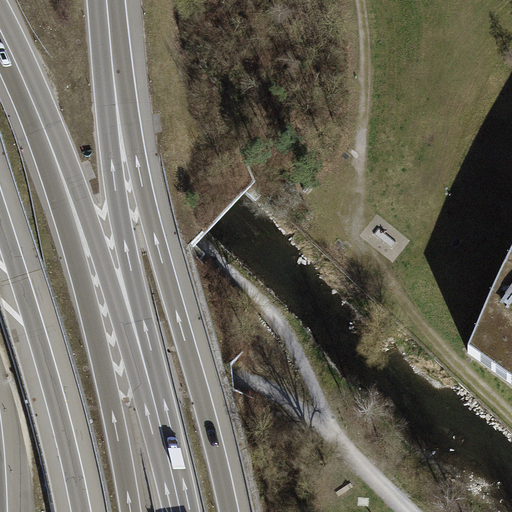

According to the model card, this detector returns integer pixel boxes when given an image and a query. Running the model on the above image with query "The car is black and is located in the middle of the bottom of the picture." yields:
[205,420,220,448]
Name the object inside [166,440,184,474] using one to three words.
vehicle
